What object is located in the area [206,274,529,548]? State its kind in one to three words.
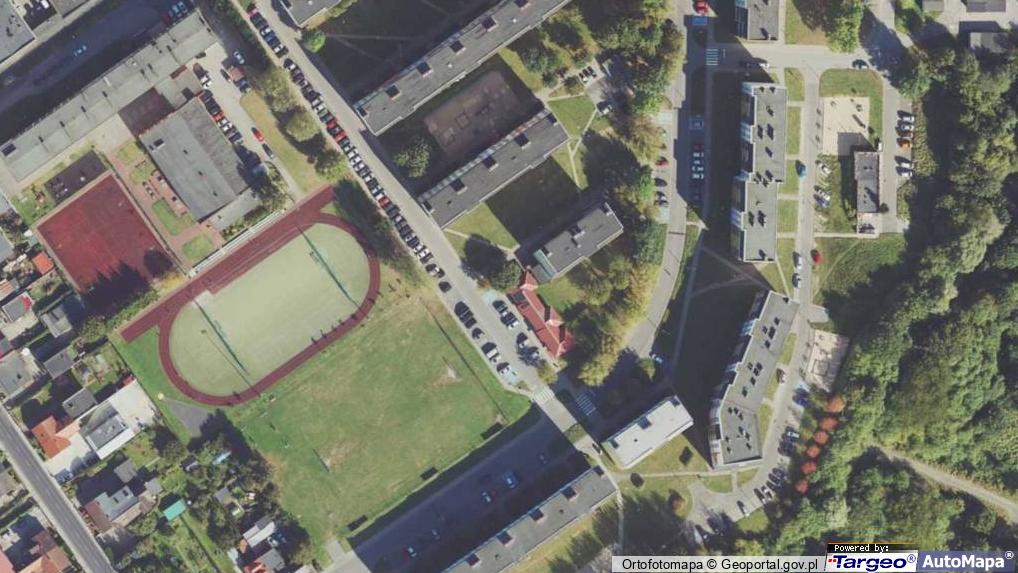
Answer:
sports field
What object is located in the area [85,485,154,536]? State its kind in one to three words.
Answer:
house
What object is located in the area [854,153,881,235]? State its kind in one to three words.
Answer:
building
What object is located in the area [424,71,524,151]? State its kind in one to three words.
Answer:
sports court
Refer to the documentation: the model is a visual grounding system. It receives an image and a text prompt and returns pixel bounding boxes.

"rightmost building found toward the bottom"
[706,287,799,465]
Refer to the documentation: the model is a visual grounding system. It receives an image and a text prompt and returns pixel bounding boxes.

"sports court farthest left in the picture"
[37,175,168,308]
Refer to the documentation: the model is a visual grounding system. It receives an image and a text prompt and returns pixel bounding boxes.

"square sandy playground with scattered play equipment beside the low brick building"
[822,97,870,156]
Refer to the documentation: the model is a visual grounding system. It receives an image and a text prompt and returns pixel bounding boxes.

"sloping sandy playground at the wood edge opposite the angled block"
[806,331,848,390]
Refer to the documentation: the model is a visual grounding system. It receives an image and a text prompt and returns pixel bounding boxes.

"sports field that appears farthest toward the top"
[169,227,370,395]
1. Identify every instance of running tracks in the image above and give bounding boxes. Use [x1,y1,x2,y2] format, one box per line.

[121,183,380,405]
